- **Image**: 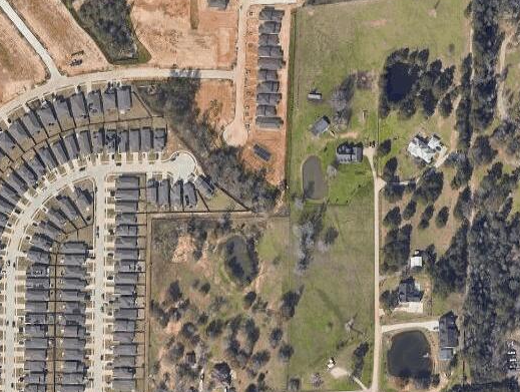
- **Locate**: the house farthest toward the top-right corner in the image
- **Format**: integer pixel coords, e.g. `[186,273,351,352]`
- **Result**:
[406,137,446,162]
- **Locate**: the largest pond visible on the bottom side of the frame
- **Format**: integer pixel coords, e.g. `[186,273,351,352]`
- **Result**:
[386,328,431,385]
